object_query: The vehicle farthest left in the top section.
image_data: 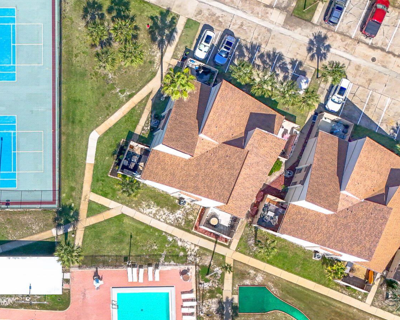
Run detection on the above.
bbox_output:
[193,27,216,62]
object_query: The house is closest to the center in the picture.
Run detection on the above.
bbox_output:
[115,57,302,239]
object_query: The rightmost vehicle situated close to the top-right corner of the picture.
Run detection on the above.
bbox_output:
[360,0,389,39]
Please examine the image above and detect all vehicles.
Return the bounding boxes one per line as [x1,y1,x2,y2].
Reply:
[213,33,236,67]
[322,0,346,28]
[193,27,216,62]
[360,0,389,39]
[325,81,350,112]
